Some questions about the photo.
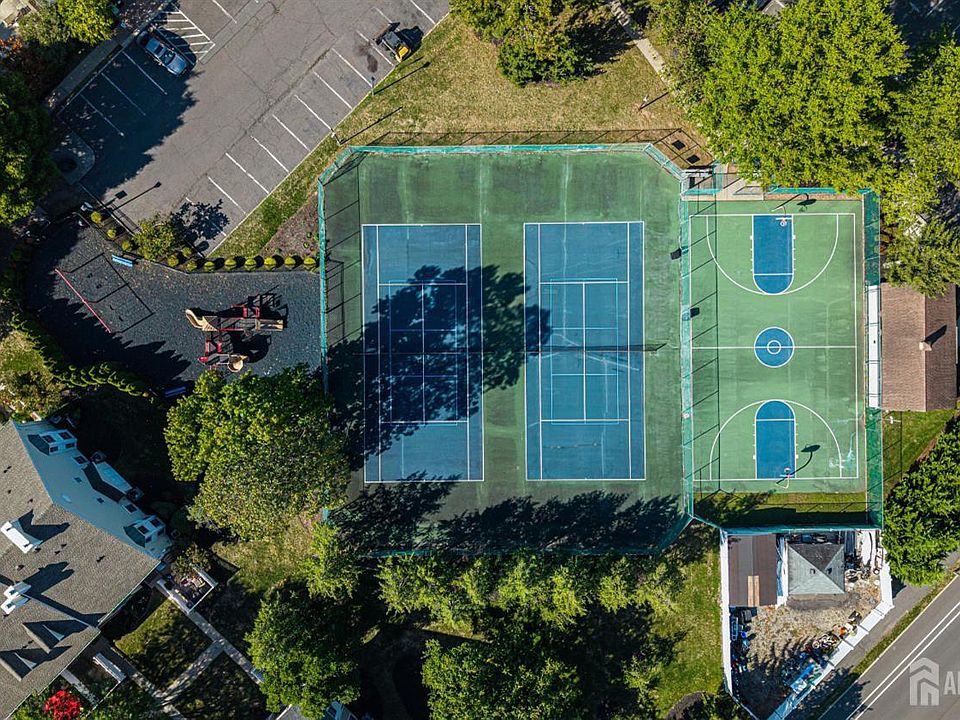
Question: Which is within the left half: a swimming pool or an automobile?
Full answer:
It is an automobile that can be seen within the left half.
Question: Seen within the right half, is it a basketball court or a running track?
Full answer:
What appears within the right half is a basketball court.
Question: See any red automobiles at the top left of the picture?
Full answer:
No, I see no red automobile at the top left of the picture.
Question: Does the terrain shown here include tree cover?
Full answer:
Yes, there's tree cover in this view.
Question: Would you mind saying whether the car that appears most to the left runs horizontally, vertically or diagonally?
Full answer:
In this picture, the car that appears most to the left lies diagonally.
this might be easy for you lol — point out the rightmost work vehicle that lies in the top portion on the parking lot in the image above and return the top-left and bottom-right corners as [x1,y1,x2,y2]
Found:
[370,19,411,57]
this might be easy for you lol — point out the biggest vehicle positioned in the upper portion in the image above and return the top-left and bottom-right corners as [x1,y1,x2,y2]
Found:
[133,24,186,71]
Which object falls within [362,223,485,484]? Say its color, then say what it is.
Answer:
blue tennis court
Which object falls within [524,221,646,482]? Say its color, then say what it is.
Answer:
blue tennis court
